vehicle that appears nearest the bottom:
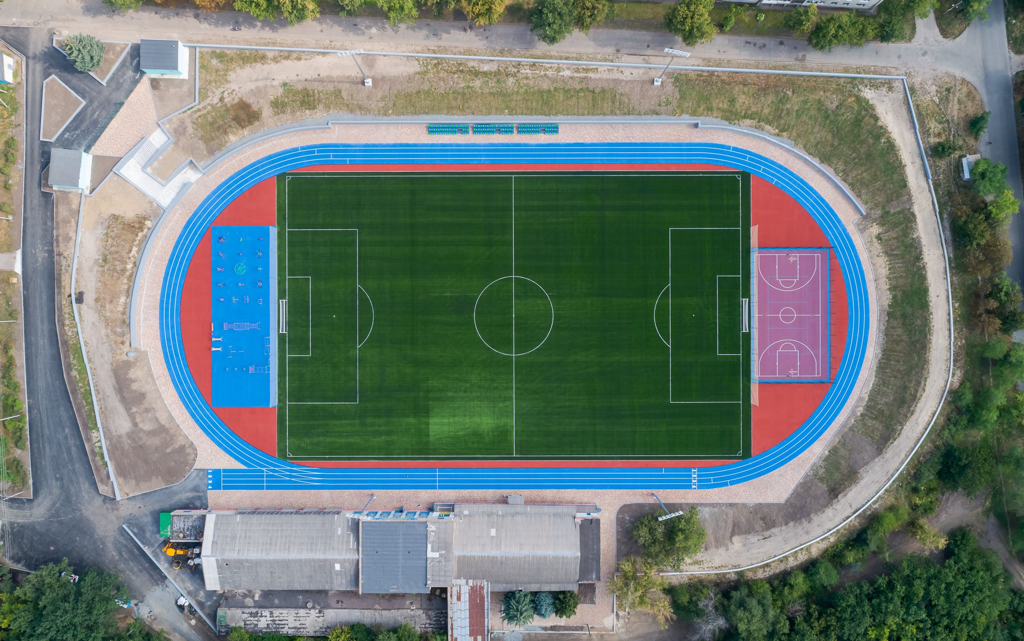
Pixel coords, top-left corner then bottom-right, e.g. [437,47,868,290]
[162,542,192,558]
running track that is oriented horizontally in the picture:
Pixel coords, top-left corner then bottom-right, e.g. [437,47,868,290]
[159,143,869,490]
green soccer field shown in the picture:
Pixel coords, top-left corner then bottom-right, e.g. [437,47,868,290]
[276,171,752,461]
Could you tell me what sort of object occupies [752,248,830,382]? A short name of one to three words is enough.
basketball court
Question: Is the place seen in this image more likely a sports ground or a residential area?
sports ground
